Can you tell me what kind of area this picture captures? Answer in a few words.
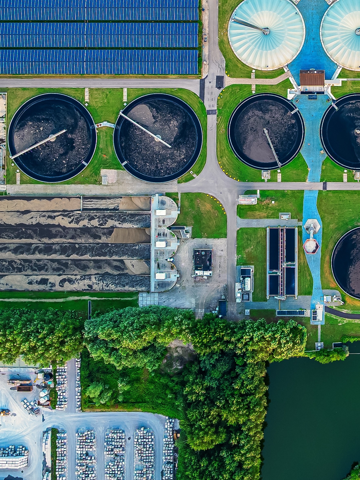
industrial area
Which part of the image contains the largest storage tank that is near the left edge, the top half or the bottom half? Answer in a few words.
top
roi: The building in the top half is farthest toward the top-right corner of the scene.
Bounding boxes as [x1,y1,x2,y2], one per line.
[285,65,347,100]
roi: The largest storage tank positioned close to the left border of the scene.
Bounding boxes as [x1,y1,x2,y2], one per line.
[7,93,96,183]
